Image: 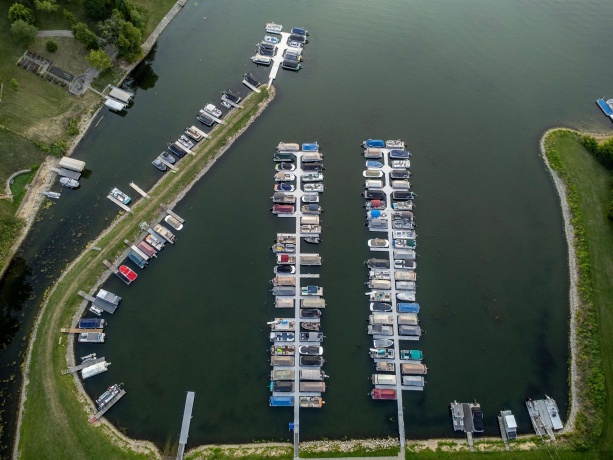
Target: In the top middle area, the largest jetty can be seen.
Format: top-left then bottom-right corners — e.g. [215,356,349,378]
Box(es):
[266,31,302,90]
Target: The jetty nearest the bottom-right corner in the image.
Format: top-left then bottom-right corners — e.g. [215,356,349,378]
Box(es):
[536,400,556,441]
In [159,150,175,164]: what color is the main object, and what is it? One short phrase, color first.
gray boat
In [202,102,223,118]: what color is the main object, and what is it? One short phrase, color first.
white boat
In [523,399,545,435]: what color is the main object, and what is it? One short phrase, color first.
gray boat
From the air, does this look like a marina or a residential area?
marina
